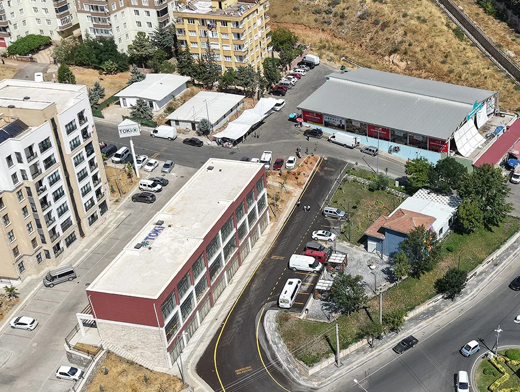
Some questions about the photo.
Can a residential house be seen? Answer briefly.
Yes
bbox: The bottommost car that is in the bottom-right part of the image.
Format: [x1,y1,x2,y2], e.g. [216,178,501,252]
[455,368,471,392]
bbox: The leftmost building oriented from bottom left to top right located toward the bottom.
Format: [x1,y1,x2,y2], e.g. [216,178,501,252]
[51,158,272,377]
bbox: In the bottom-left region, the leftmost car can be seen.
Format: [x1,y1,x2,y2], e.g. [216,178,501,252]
[8,317,40,332]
